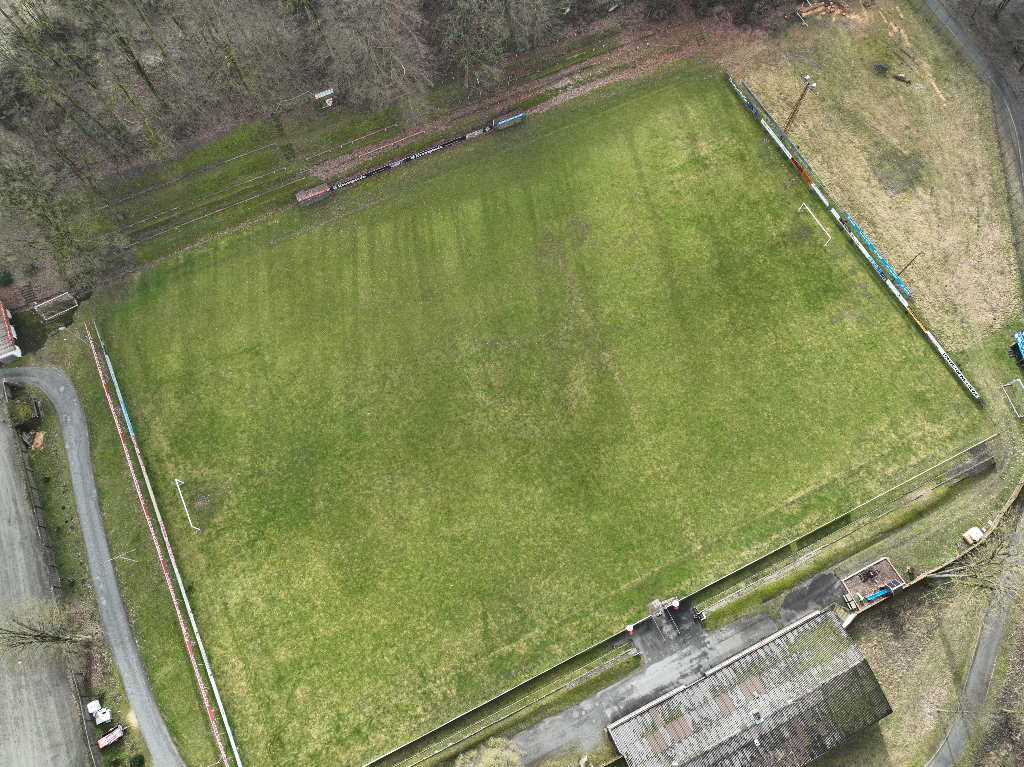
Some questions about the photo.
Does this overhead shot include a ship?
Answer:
No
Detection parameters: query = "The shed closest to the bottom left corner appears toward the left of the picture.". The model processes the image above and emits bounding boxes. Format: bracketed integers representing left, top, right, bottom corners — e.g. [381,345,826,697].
[10,396,45,429]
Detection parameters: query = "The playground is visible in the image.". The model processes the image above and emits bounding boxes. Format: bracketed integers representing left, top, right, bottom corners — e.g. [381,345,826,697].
[839,557,906,611]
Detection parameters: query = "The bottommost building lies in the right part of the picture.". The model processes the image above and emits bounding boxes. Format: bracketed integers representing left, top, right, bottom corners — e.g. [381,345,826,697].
[609,609,891,767]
